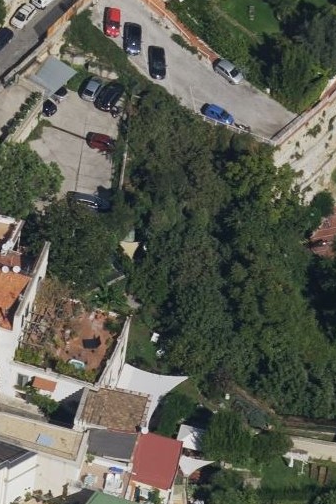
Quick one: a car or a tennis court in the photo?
car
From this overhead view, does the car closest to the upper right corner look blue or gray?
gray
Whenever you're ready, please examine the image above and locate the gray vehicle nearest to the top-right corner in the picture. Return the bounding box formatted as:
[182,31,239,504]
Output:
[210,58,245,87]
